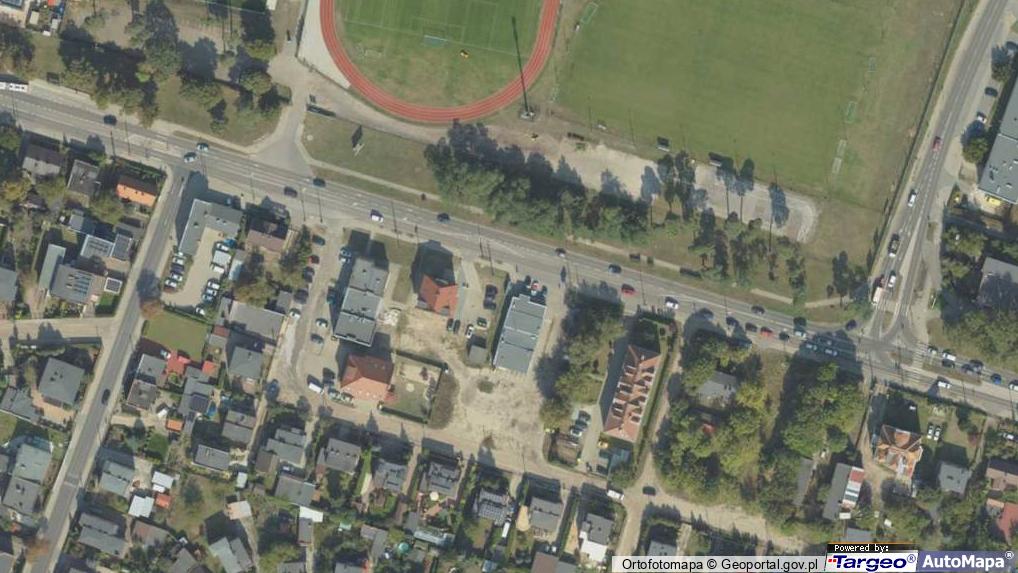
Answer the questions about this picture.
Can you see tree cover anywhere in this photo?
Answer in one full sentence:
Yes, tree cover can be seen from above here.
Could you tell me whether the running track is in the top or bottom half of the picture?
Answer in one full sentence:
The running track sits in the top half of the picture.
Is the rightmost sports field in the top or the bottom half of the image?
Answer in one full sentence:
The rightmost sports field is in the top half of the image.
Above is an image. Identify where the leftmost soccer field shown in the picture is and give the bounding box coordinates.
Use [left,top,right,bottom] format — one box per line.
[345,0,544,60]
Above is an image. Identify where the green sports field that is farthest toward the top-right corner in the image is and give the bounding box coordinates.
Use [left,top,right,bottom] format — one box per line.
[560,0,885,194]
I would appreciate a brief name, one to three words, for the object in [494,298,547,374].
building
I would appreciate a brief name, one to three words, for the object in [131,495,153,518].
shed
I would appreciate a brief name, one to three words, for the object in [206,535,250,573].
house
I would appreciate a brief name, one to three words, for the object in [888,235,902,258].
vehicle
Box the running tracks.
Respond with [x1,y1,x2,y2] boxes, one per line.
[320,0,562,124]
